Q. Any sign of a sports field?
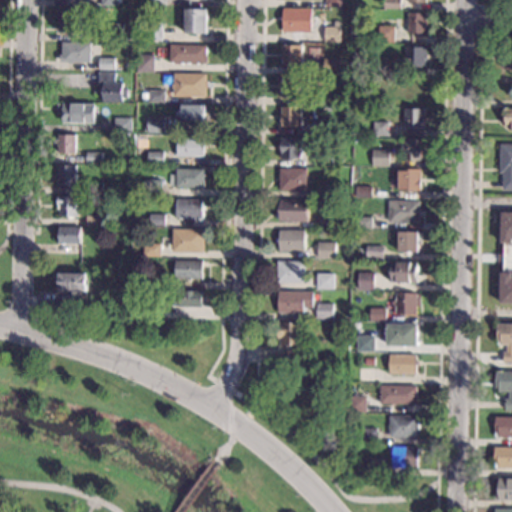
No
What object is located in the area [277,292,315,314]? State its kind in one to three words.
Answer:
house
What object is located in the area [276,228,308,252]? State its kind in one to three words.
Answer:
house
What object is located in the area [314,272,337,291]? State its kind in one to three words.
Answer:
building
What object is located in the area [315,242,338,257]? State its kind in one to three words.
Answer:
building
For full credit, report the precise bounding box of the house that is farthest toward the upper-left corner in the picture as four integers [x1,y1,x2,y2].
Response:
[58,41,92,64]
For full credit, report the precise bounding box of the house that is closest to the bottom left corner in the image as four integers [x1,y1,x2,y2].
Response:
[54,272,88,292]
